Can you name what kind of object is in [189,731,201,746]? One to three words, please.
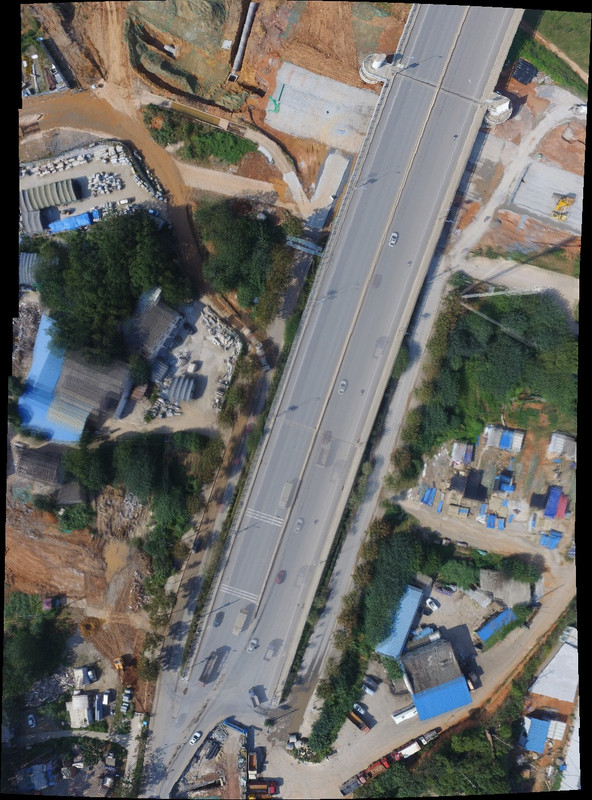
vehicle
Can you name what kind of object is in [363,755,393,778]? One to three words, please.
truck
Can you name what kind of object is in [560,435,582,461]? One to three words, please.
shed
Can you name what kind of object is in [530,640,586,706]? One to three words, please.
building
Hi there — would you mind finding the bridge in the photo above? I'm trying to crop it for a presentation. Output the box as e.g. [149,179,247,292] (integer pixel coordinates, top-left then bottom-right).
[188,0,526,702]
